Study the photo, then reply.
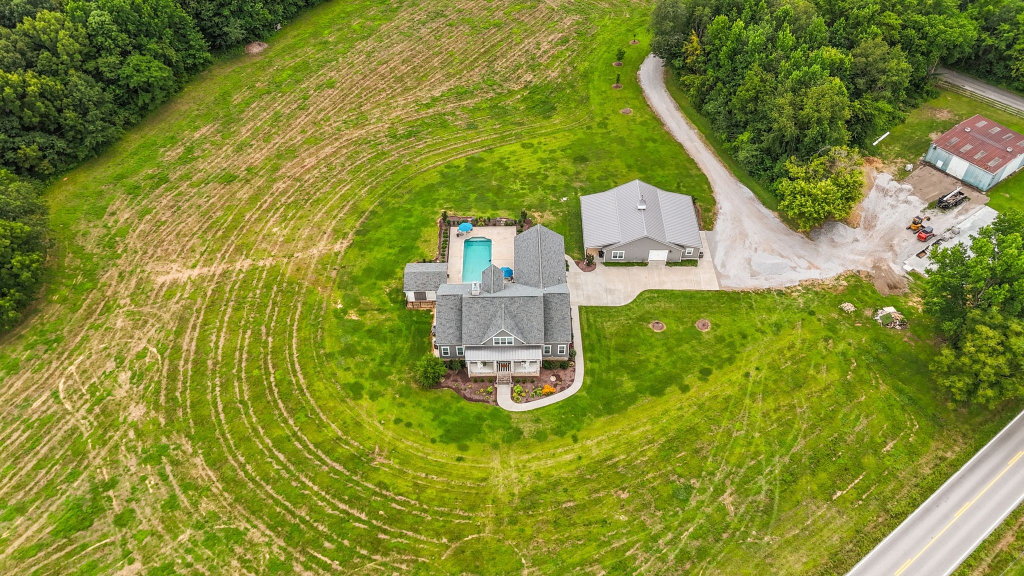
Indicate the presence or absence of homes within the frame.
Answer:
Yes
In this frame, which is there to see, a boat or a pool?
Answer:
pool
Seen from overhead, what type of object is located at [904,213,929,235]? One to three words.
work vehicle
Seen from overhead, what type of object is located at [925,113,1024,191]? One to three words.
shed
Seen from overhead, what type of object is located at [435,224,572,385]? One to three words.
house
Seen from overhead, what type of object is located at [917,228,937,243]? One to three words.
work vehicle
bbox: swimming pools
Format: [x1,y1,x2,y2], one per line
[461,236,493,283]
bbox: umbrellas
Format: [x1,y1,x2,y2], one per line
[502,268,514,283]
[459,224,472,238]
